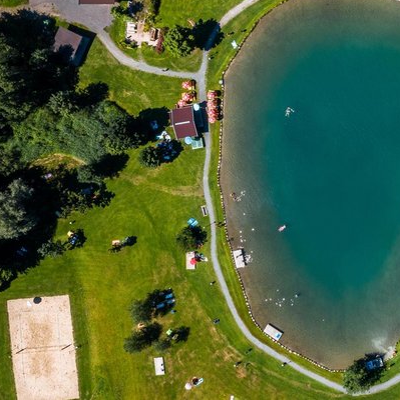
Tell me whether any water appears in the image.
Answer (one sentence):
Yes, the picture does contain water.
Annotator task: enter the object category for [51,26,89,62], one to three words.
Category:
shed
